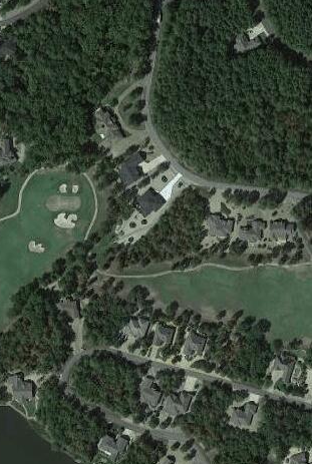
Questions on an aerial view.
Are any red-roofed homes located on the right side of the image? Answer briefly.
No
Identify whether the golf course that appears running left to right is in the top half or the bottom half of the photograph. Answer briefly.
bottom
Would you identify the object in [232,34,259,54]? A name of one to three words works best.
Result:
house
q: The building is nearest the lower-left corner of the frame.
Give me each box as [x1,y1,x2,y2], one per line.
[10,376,33,399]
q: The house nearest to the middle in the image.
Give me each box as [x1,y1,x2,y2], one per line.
[137,186,168,218]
